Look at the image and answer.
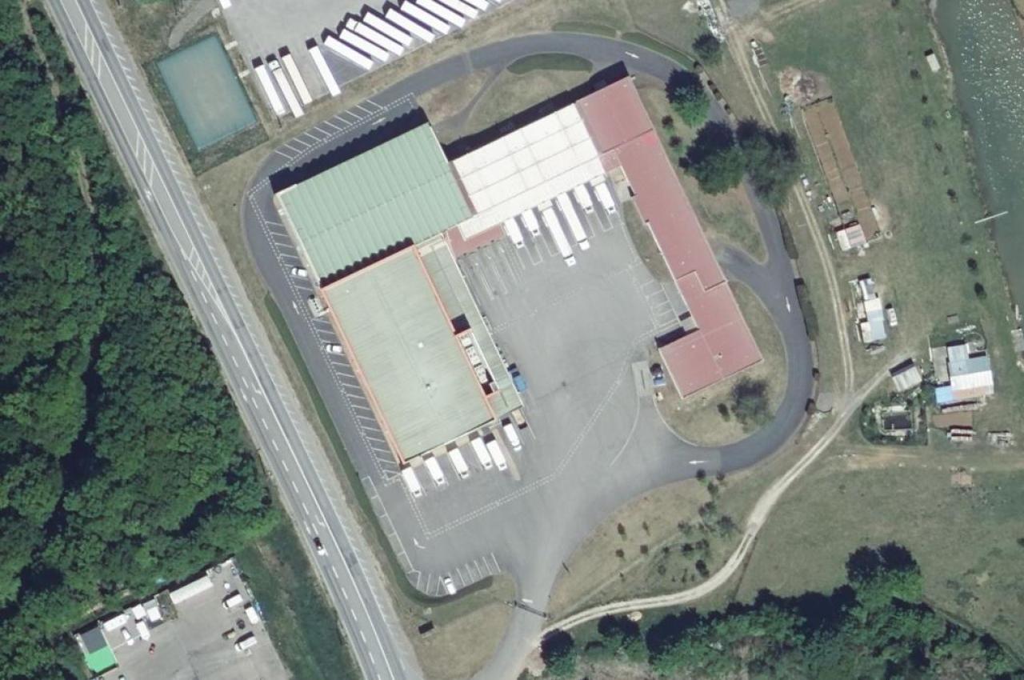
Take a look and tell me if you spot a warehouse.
Yes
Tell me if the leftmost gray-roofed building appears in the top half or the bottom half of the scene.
bottom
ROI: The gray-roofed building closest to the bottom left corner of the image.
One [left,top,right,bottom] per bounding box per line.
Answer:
[82,628,107,653]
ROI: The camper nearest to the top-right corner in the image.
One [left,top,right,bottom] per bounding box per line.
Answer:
[886,308,899,331]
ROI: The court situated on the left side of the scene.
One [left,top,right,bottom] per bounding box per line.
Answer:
[156,36,256,151]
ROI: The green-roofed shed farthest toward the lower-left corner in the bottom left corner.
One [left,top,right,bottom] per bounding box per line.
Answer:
[86,646,116,673]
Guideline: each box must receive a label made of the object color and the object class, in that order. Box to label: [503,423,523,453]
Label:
white vehicle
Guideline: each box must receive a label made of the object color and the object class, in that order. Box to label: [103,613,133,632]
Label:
white camper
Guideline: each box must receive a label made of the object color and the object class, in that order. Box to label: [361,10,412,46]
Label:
white trailer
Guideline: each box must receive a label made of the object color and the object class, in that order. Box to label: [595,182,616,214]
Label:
white truck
